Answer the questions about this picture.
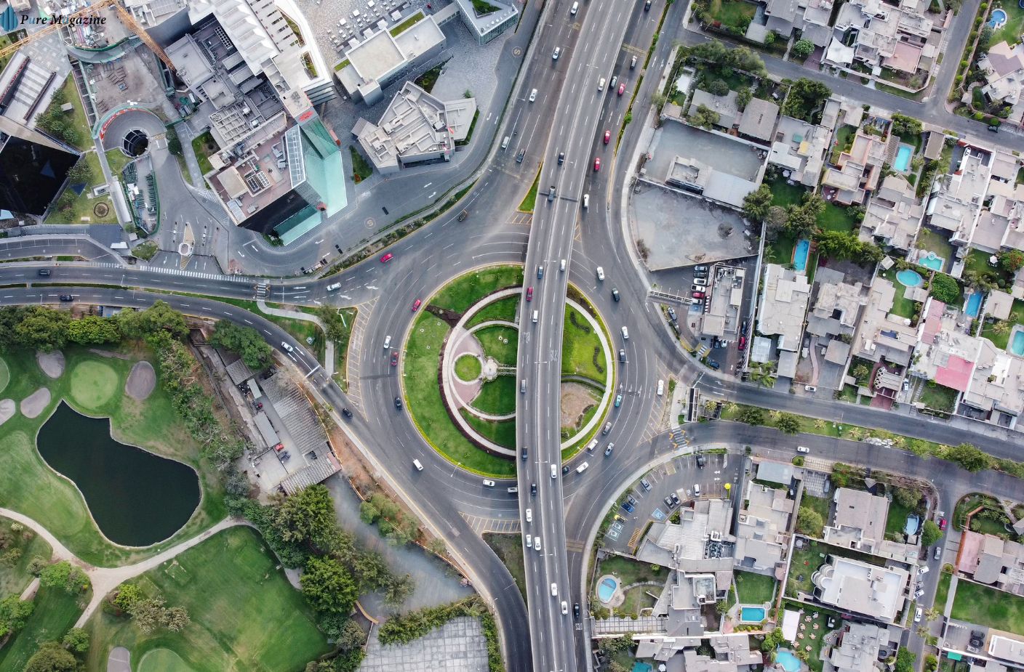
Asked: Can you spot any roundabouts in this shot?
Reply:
Yes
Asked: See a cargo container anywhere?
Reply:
Yes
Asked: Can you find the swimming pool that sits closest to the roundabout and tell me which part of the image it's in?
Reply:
bottom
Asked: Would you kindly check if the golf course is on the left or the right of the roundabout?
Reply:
to the left of it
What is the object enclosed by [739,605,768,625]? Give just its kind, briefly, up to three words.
swimming pool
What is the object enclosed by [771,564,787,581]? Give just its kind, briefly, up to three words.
gazebo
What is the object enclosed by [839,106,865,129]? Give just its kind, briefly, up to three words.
house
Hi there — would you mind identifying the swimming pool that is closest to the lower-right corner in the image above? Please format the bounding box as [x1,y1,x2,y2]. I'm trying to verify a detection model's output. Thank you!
[903,514,921,535]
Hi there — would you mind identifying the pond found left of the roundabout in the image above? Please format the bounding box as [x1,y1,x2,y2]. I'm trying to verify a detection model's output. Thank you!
[35,399,201,548]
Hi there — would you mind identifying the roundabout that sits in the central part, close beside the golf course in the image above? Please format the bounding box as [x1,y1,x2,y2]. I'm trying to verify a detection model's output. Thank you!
[360,221,657,519]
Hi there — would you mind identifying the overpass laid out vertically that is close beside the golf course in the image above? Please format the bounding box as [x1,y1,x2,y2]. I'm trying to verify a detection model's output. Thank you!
[516,0,635,672]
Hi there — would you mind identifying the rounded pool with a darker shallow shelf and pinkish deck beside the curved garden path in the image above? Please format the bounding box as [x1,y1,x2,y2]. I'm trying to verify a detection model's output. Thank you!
[594,574,621,607]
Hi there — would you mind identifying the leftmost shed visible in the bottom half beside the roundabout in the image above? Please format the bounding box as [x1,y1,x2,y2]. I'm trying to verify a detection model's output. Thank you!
[216,348,345,494]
